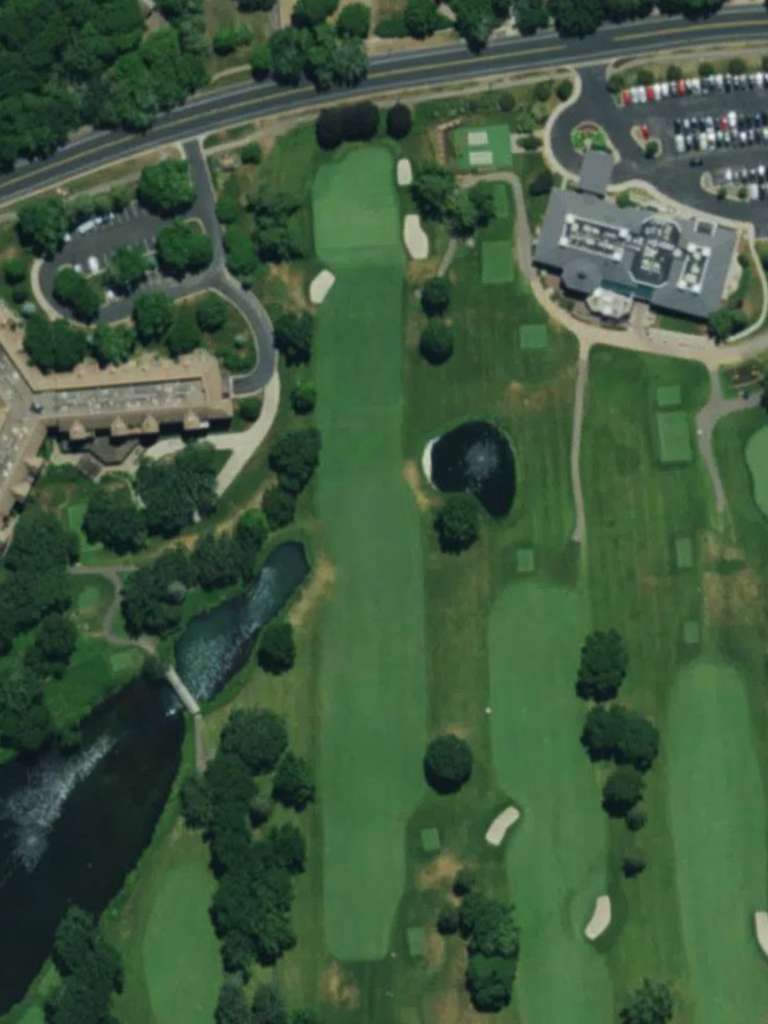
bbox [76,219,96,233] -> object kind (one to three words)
vehicle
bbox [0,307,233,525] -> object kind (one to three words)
building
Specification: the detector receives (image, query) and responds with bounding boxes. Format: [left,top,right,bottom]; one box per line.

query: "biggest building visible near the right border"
[533,152,738,329]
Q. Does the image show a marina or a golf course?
golf course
